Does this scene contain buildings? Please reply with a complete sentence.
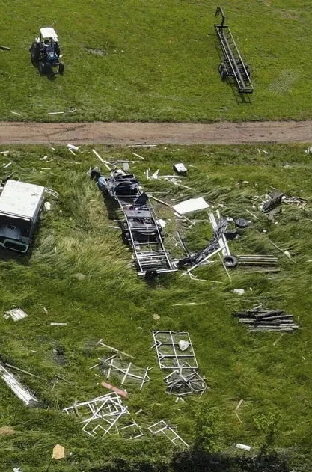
No, no building can be seen from above.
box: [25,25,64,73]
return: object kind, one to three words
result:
work vehicle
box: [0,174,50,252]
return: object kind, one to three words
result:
van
